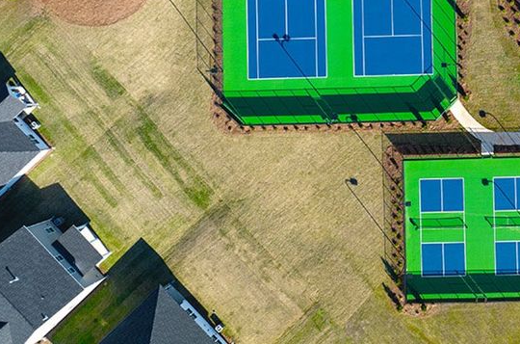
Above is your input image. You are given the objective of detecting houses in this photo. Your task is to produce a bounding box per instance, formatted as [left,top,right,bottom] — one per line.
[0,218,116,344]
[100,281,233,344]
[0,74,50,199]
